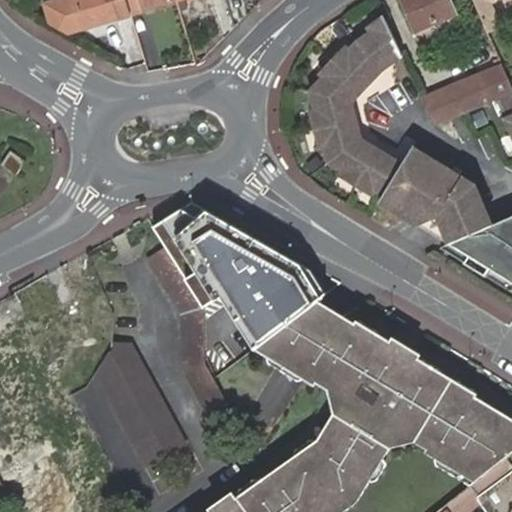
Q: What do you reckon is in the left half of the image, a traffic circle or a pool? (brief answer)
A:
traffic circle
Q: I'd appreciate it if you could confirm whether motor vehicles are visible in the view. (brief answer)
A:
Yes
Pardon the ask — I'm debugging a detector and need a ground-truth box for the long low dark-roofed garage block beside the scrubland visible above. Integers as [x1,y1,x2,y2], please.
[72,341,187,472]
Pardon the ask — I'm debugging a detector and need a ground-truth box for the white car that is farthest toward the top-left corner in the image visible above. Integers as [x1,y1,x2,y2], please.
[106,26,122,48]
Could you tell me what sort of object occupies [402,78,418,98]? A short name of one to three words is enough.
car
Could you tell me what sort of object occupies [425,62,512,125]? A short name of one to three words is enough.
house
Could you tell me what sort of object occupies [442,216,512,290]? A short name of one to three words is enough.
building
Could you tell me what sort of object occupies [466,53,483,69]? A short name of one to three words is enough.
car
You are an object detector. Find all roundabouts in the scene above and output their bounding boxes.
[68,70,272,206]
